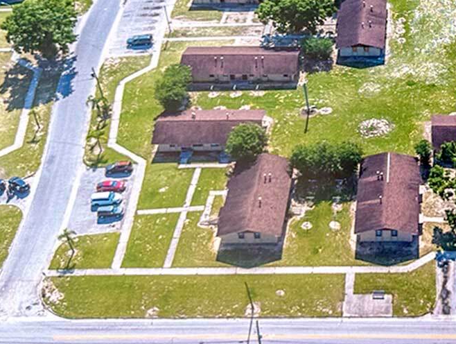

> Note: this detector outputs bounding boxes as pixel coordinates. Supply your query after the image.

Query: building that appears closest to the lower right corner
[351,153,422,244]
